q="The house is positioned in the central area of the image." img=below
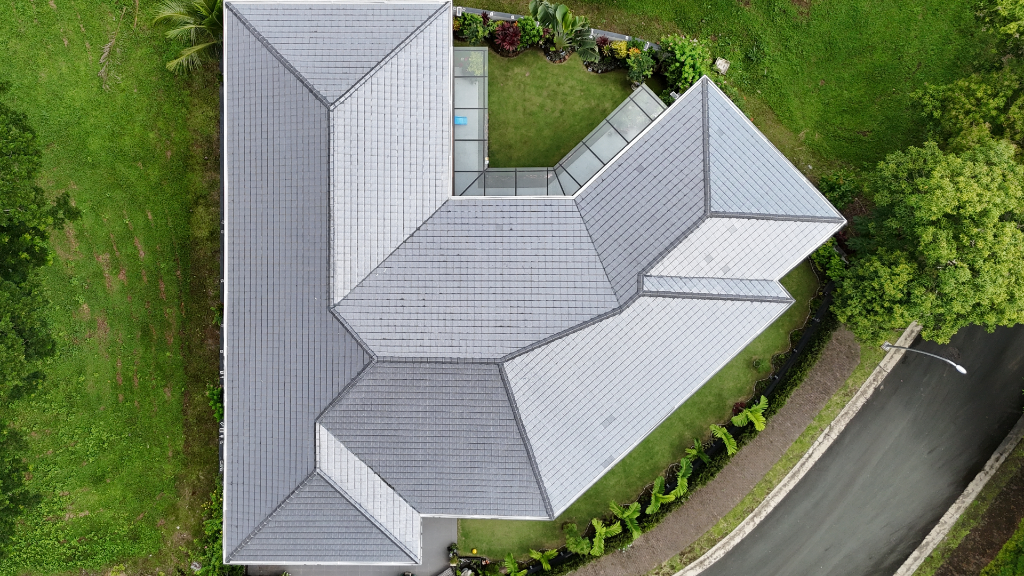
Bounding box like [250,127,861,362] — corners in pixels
[223,0,846,564]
